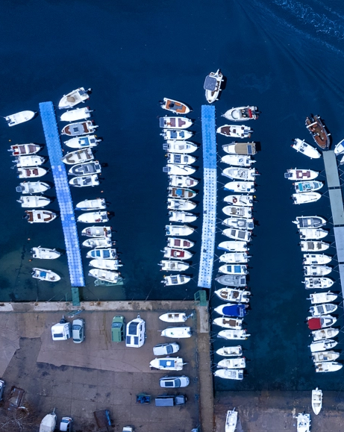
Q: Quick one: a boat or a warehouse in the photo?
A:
boat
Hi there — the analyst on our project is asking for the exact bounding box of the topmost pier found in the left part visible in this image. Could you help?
[39,100,86,287]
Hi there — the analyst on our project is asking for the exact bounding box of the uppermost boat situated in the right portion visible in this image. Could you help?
[202,65,225,105]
